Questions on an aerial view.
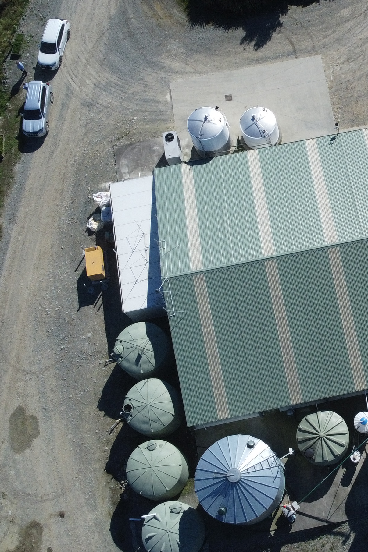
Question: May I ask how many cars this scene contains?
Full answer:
In total, 2 cars can be seen.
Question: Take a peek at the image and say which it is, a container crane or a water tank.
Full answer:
The one in the frame is a water tank.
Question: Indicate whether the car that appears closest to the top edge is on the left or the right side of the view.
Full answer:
The car that appears closest to the top edge is on the left side of the image.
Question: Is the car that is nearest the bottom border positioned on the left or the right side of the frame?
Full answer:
The car that is nearest the bottom border is on the left side of the image.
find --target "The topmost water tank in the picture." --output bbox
[110,324,174,380]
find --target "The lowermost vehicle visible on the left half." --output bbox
[19,84,56,143]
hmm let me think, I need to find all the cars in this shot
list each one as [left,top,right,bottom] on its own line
[19,84,56,143]
[35,19,71,74]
